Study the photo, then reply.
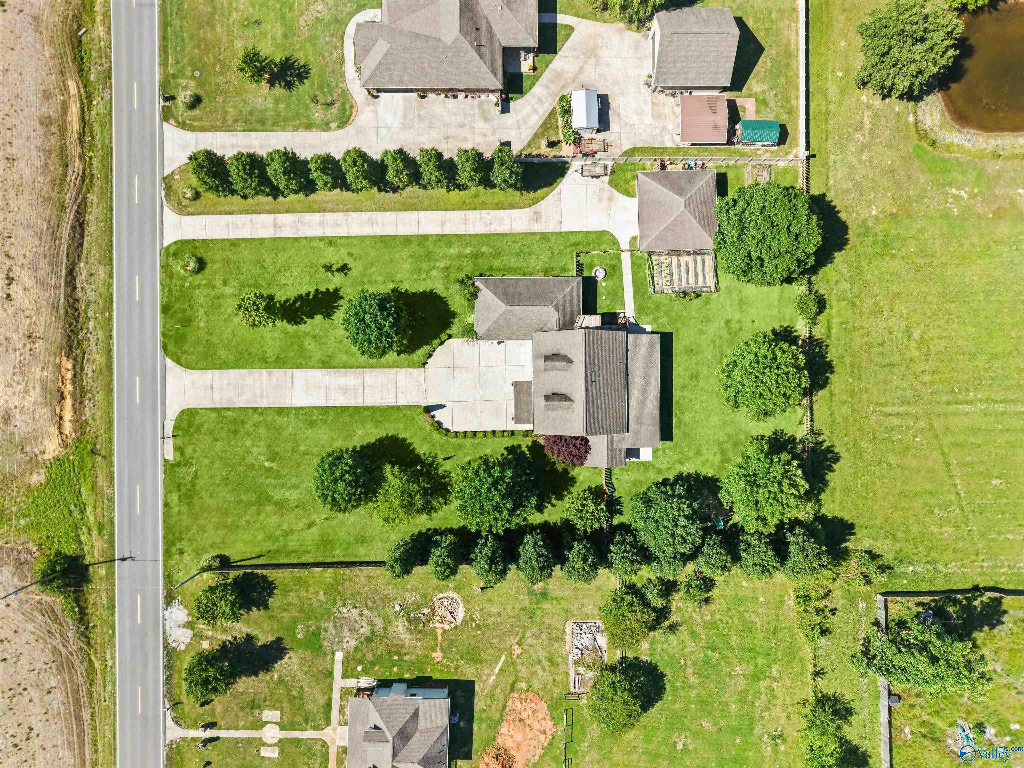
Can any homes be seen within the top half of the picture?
Yes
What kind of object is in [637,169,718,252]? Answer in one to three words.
building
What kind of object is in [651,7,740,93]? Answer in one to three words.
building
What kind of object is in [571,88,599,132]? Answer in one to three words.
shed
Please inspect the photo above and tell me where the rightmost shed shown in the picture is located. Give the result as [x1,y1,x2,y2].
[736,119,780,146]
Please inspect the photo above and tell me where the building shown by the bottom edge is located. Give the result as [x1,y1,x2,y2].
[346,683,450,768]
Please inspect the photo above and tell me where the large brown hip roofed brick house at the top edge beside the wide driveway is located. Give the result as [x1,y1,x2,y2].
[353,0,538,114]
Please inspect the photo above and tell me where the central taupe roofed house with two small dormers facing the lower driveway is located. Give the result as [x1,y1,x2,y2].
[474,276,661,468]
